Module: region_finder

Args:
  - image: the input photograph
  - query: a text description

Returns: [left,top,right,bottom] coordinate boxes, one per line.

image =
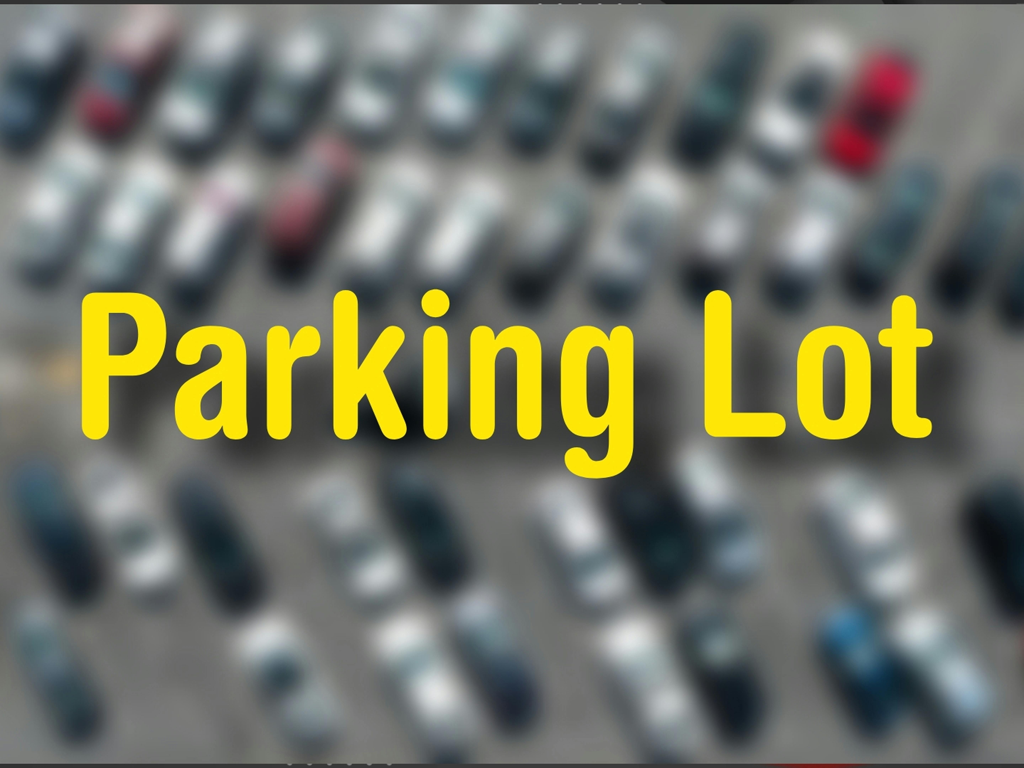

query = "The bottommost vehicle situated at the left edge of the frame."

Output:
[8,604,113,753]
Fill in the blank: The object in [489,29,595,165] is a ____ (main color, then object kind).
gray car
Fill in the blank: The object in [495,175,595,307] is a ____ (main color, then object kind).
gray car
